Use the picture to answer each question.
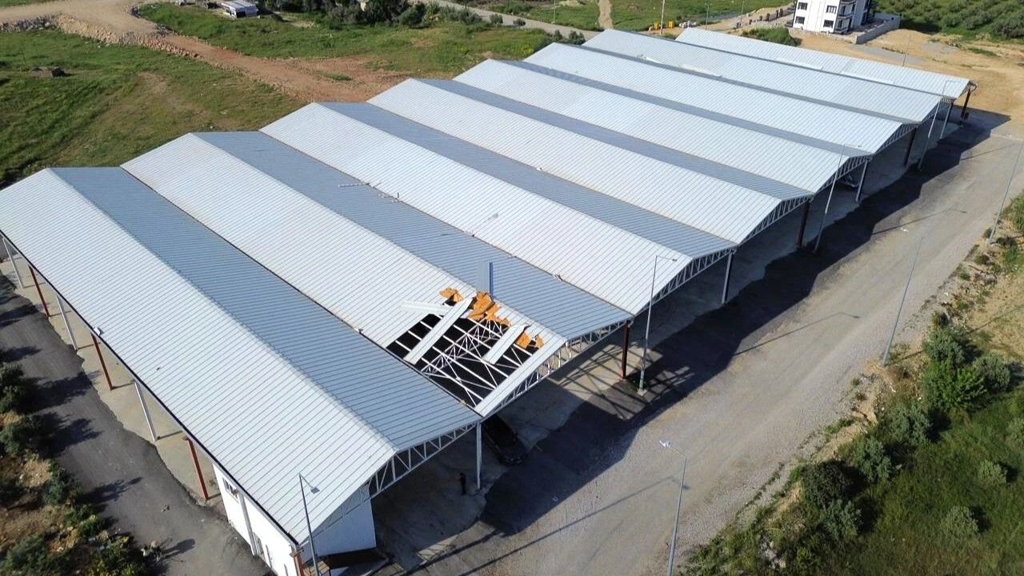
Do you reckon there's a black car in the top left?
No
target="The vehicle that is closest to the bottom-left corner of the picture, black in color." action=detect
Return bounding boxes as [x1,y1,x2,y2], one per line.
[486,412,526,464]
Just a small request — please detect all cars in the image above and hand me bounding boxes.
[828,174,846,187]
[486,412,526,464]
